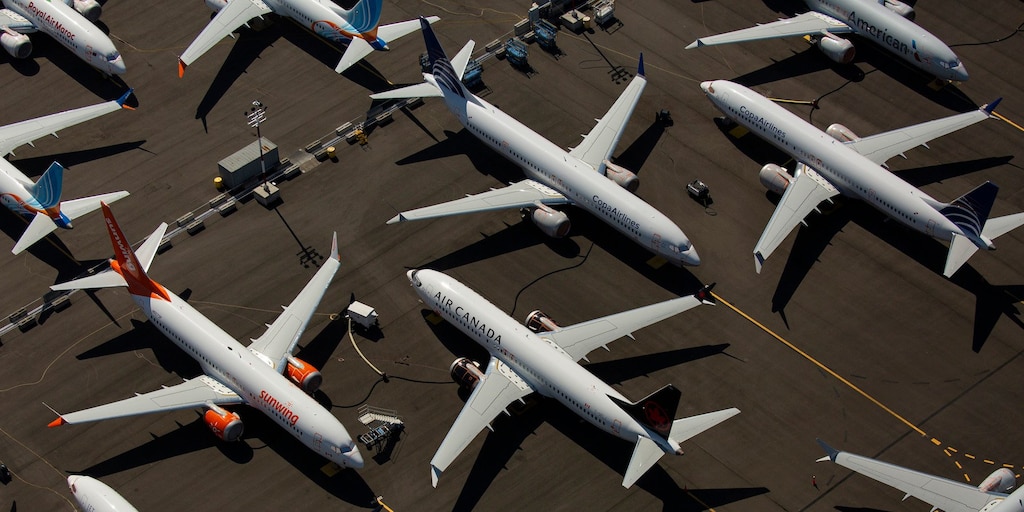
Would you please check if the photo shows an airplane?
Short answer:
Yes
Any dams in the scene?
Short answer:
No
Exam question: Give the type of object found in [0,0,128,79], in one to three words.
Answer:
airplane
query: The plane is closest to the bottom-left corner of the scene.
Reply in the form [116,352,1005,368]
[66,476,132,512]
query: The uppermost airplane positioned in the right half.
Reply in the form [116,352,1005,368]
[682,0,970,85]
